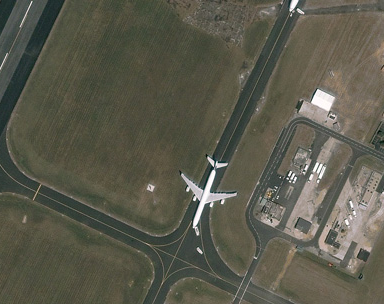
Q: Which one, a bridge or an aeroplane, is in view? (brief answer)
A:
aeroplane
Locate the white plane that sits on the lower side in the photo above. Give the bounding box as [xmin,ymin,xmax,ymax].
[179,161,237,227]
